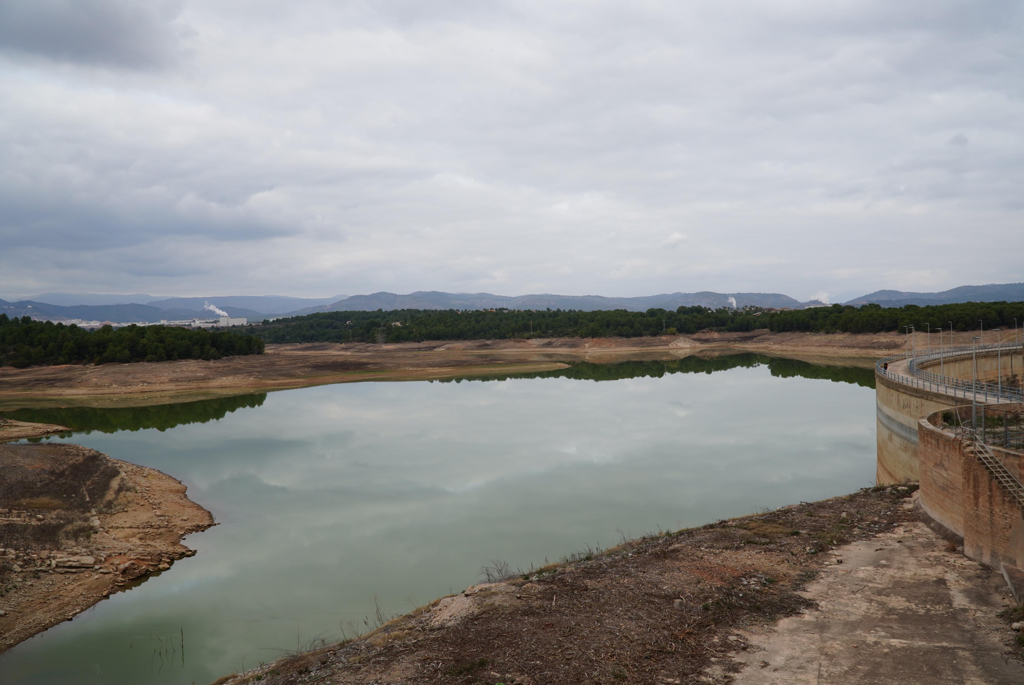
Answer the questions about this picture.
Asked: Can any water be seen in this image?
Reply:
Yes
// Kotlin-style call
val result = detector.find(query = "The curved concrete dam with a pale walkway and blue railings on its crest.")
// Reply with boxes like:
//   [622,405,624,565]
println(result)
[874,346,1024,482]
